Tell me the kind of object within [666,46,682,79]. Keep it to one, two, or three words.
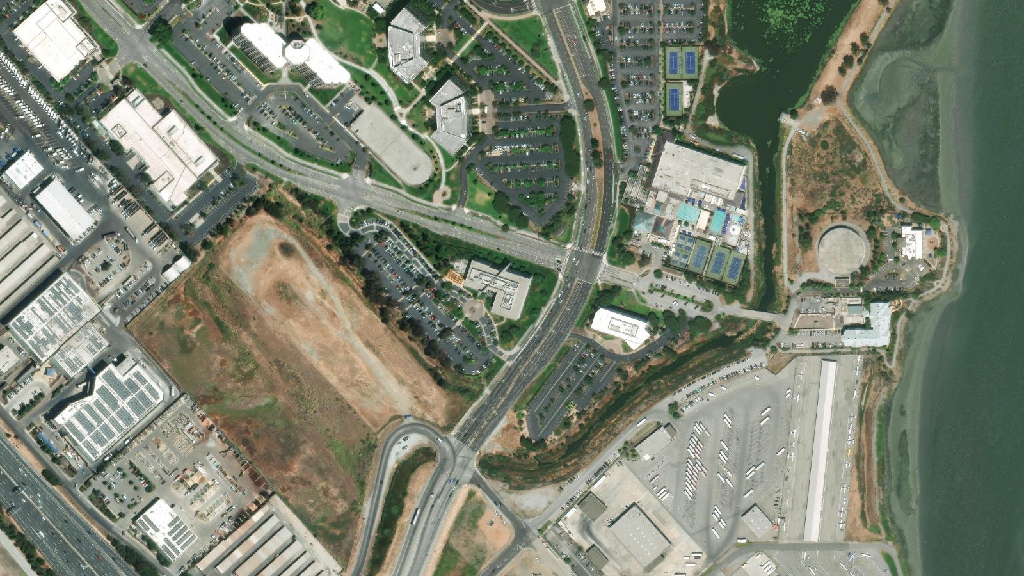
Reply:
tennis court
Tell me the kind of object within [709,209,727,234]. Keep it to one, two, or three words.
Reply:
swimming pool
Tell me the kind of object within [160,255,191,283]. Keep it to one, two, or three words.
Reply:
tent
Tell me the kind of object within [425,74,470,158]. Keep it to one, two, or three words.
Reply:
building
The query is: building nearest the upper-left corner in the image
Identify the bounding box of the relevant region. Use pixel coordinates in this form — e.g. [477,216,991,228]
[11,0,95,82]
